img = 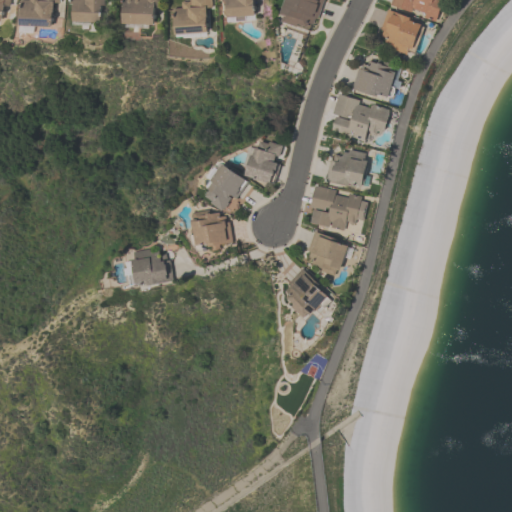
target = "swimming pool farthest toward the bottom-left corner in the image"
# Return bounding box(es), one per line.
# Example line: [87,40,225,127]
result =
[114,263,128,284]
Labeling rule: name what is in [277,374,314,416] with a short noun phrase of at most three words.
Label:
sports field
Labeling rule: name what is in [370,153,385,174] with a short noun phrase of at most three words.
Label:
swimming pool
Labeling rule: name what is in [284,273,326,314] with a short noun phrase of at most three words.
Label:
house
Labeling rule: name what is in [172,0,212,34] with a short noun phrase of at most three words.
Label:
house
